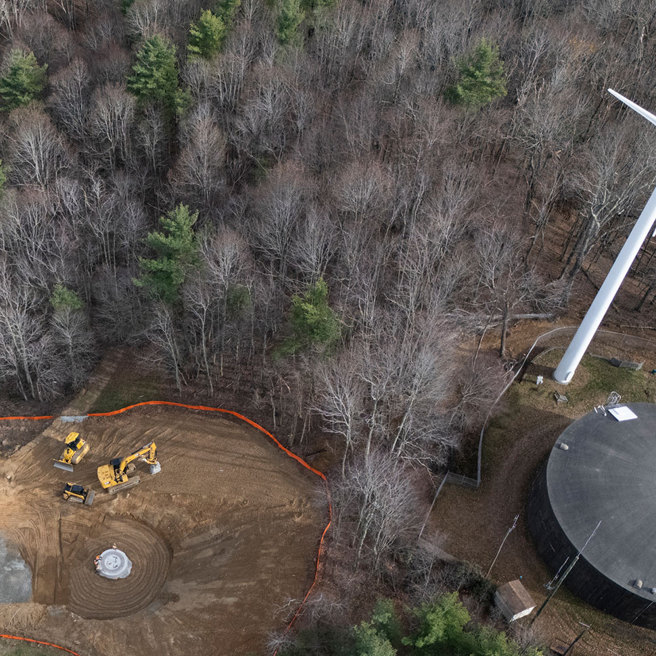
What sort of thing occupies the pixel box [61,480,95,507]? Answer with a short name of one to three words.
work vehicle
